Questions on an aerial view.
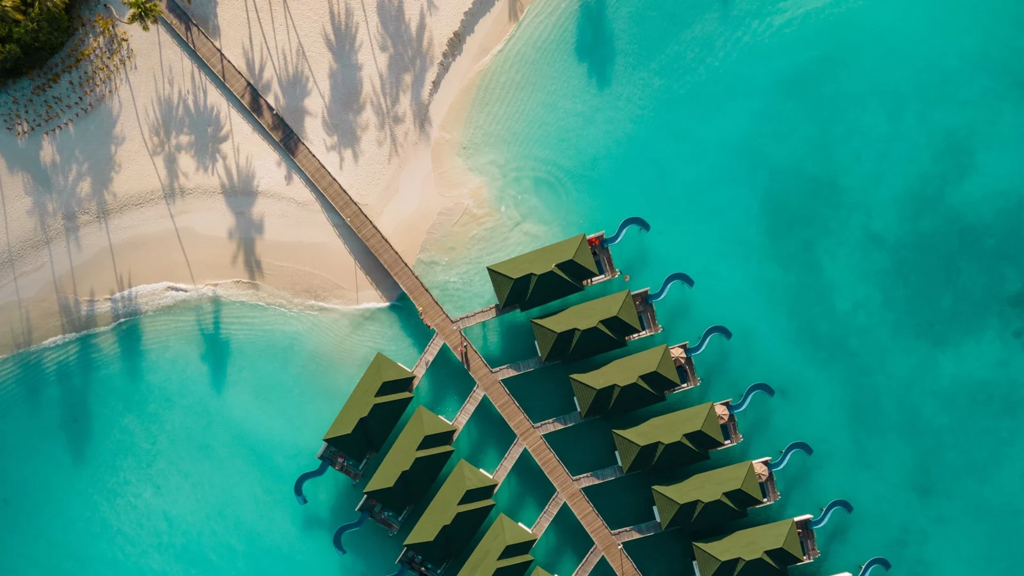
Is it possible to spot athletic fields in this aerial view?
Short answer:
No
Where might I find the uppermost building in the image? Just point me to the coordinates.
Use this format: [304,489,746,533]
[487,230,621,312]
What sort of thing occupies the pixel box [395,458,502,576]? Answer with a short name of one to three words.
house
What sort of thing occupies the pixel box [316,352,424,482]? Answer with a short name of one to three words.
house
